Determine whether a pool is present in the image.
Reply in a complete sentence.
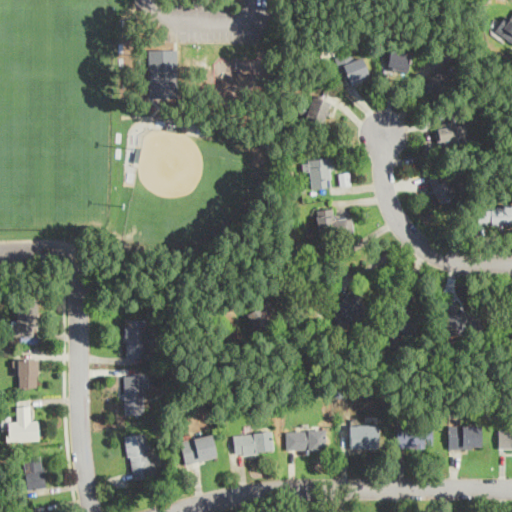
No, I find no pool anywhere in the image.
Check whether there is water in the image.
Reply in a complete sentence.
No, there's no water in this view.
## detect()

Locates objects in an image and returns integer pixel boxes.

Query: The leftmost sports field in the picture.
[0,0,110,229]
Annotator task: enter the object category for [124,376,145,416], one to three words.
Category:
house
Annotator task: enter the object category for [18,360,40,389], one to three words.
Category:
house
